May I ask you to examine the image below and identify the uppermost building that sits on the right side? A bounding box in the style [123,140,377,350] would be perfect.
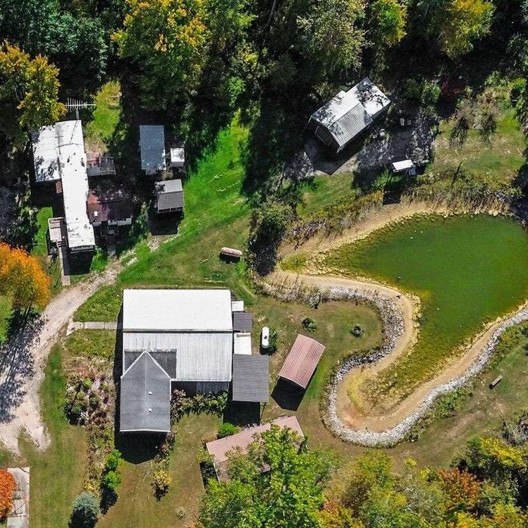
[310,69,391,153]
